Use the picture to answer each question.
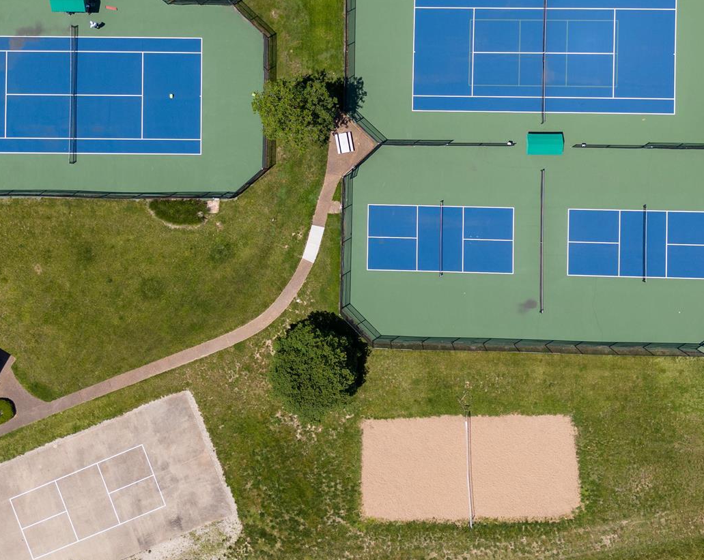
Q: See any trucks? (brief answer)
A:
No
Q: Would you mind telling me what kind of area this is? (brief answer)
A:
sports ground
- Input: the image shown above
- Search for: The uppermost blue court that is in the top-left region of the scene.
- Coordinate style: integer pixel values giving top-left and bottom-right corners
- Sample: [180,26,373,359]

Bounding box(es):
[0,35,203,154]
